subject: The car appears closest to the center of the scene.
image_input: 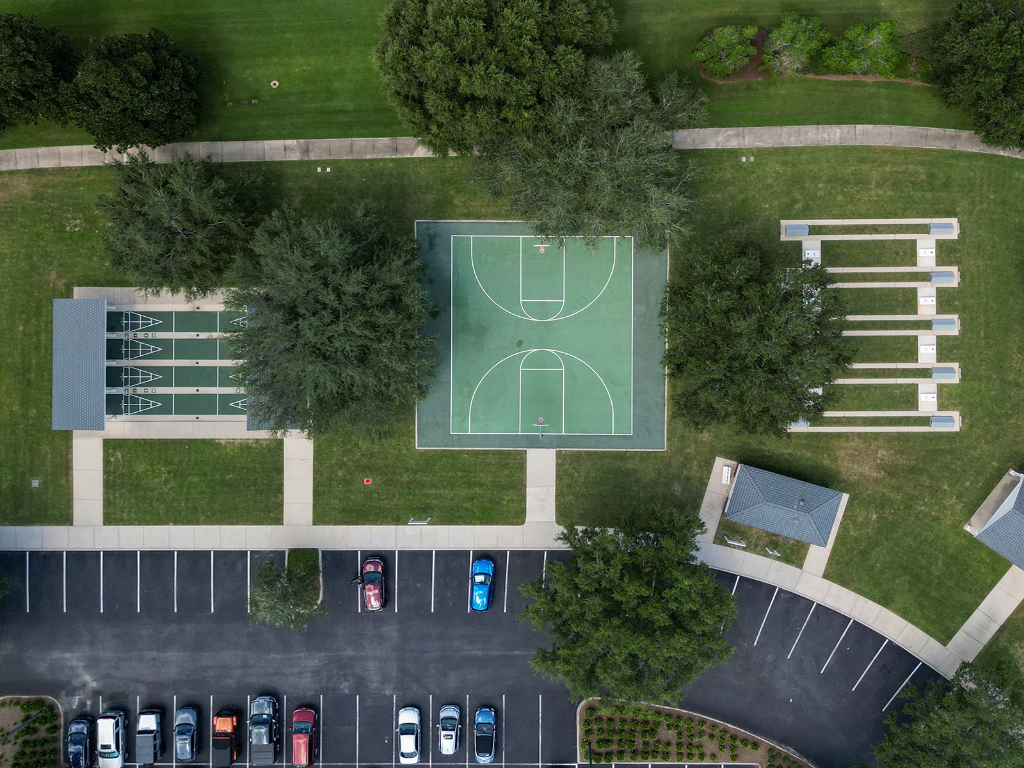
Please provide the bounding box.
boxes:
[470,561,495,613]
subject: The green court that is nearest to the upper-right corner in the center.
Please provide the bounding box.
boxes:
[415,221,668,450]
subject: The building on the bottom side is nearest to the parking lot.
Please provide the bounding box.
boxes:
[723,463,844,548]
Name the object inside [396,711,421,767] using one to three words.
car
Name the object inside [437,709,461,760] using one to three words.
car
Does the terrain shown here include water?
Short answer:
No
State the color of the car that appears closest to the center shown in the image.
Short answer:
blue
